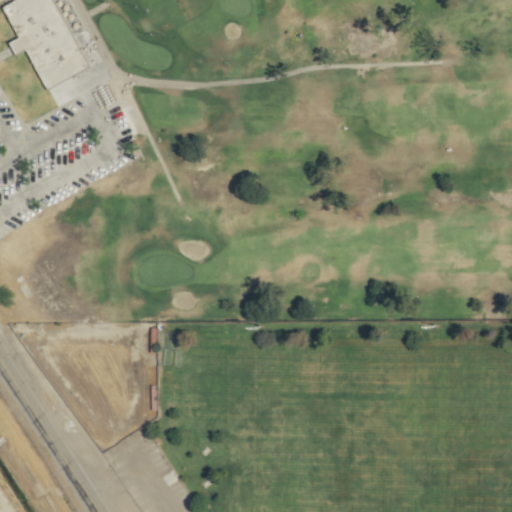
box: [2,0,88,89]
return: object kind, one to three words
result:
building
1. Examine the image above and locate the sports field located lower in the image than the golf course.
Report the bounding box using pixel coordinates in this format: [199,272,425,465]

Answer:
[154,323,512,512]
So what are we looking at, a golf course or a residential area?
golf course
